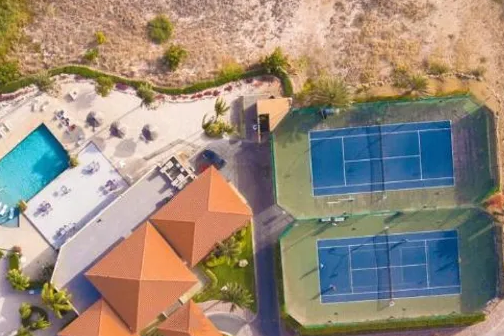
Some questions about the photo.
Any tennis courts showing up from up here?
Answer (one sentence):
Yes, you can see a tennis court in this photo.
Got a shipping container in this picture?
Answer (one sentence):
No, the picture doesn't show any shipping container.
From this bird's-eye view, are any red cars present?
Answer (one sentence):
No, there's no red car here.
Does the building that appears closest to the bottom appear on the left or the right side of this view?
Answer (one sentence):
The building that appears closest to the bottom sits on the left side.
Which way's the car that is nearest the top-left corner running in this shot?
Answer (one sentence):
Seen from above, the car that is nearest the top-left corner lies diagonally.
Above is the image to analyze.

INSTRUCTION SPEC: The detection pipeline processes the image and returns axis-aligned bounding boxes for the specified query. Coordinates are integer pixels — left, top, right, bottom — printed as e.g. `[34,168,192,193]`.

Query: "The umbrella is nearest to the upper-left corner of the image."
[86,111,104,129]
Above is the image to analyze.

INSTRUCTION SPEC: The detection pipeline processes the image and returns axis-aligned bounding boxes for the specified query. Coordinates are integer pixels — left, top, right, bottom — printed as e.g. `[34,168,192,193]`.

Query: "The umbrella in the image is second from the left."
[107,122,125,139]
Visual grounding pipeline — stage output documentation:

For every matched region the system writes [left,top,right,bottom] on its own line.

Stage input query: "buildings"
[255,98,290,144]
[50,154,252,336]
